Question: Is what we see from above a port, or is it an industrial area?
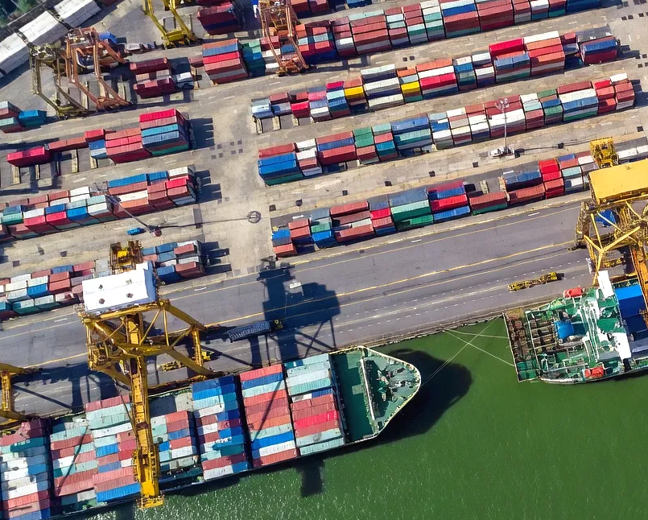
port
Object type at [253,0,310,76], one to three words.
container crane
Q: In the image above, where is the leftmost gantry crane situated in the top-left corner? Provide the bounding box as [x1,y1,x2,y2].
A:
[19,33,91,121]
